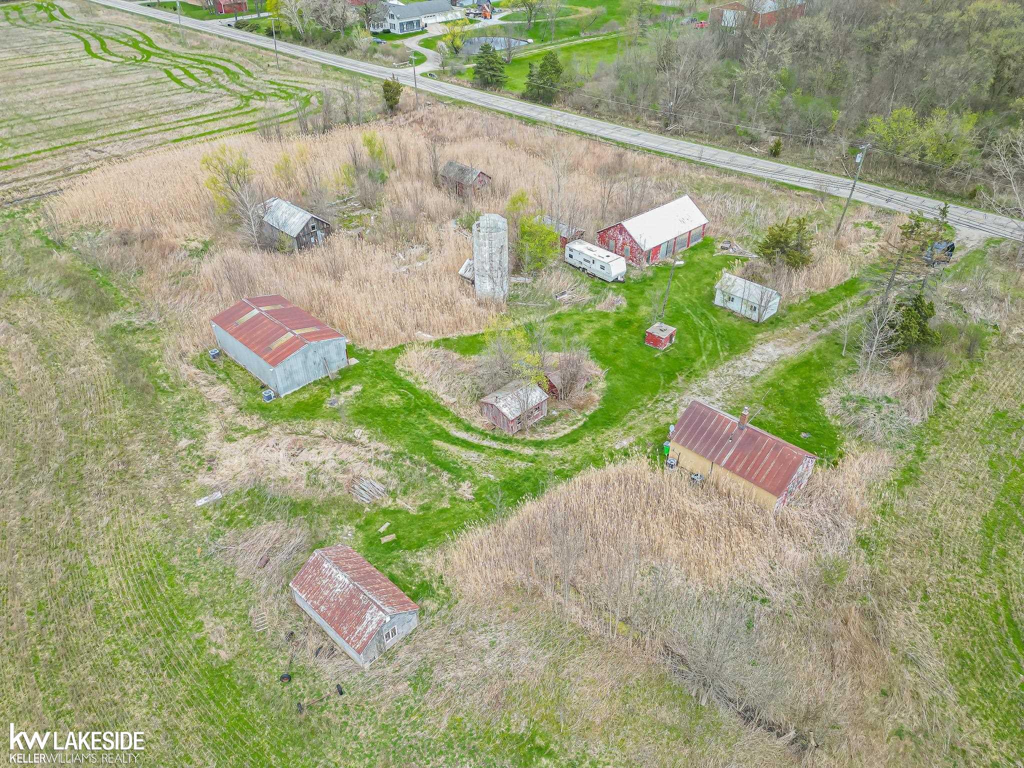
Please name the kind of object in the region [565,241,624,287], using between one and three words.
trailer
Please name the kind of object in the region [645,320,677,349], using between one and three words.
building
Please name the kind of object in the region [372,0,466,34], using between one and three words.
house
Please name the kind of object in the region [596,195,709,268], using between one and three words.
barn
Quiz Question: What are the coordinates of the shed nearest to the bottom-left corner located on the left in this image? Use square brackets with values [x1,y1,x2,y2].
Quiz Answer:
[290,546,419,669]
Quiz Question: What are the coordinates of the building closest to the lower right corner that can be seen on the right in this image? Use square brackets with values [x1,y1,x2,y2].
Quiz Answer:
[666,401,820,512]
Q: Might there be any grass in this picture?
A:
Yes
